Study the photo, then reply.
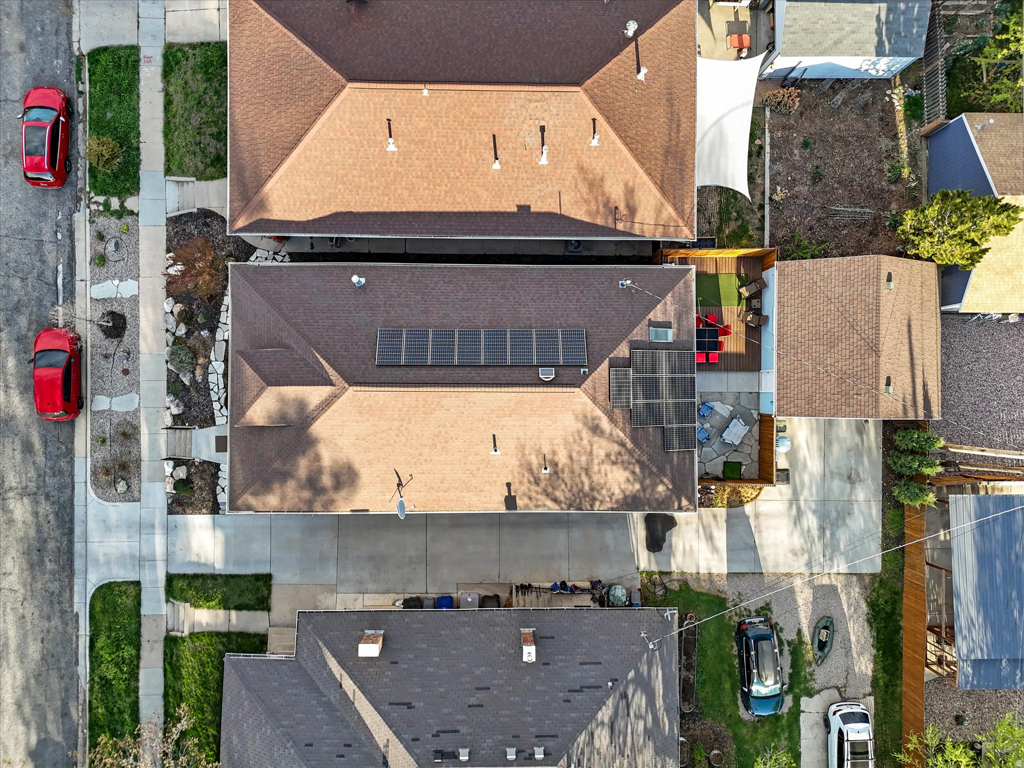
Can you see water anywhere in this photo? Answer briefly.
No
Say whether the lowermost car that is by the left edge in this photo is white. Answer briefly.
No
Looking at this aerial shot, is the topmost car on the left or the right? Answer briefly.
left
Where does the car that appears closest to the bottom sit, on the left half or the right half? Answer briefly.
right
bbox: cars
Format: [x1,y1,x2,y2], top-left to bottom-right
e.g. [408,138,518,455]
[14,87,79,192]
[819,694,883,768]
[26,327,86,422]
[731,609,793,720]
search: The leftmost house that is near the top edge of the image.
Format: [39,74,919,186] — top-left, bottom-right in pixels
[228,0,696,239]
